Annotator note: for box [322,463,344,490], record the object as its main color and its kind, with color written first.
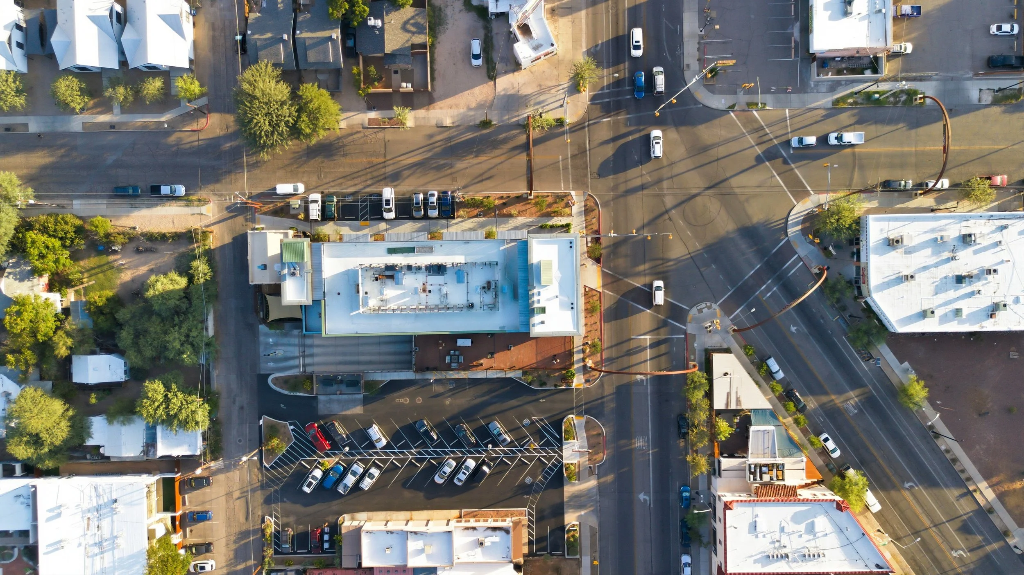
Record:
blue car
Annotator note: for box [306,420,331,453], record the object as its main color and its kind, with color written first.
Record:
red truck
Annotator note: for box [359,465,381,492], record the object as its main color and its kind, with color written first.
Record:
white car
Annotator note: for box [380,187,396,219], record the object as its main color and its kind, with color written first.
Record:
white car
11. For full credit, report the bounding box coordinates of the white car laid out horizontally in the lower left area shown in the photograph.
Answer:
[191,559,217,572]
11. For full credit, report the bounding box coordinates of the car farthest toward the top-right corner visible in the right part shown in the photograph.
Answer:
[988,22,1017,36]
